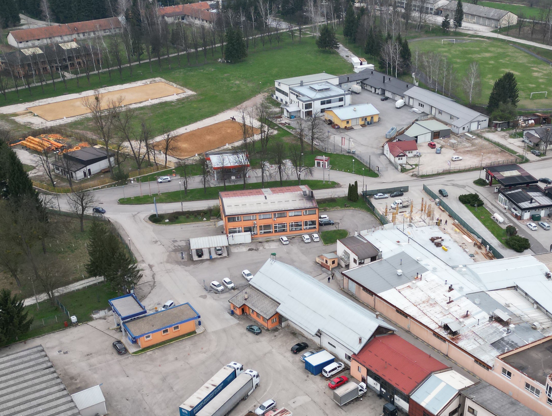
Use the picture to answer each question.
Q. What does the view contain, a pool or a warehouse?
warehouse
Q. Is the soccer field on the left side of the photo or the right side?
right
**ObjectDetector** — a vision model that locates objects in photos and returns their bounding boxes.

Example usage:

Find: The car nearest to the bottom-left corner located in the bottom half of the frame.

[113,342,127,356]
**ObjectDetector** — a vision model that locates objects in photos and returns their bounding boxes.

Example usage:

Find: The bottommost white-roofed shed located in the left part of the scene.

[70,384,107,416]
